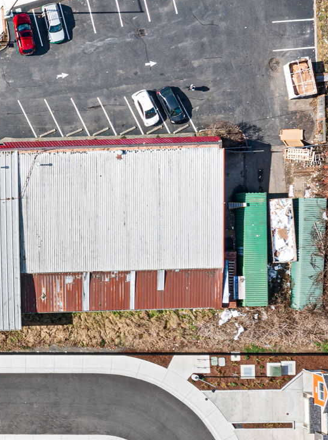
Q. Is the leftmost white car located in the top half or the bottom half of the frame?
top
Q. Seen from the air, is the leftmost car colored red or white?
red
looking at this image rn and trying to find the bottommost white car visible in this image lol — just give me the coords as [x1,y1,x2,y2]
[132,88,160,128]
